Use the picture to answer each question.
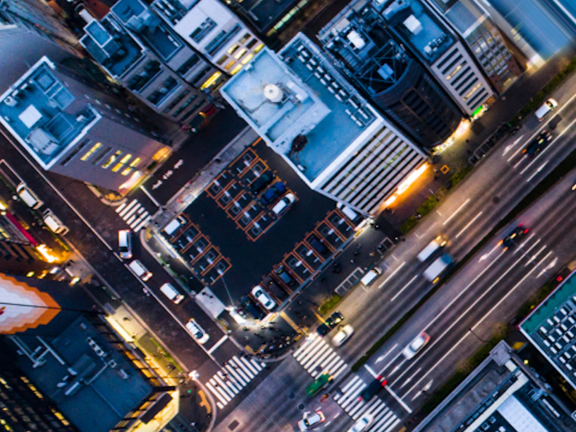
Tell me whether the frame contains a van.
Yes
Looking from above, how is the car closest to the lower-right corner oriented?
at an angle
